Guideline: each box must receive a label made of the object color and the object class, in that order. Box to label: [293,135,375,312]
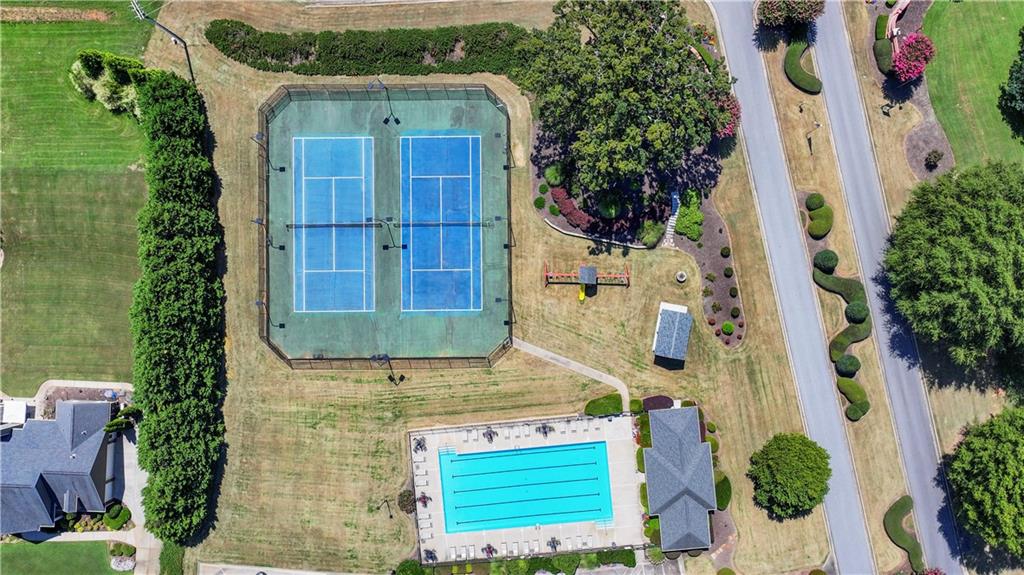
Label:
blue tennis court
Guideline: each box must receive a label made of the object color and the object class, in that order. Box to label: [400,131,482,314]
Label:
blue tennis court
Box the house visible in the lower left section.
[0,400,119,533]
